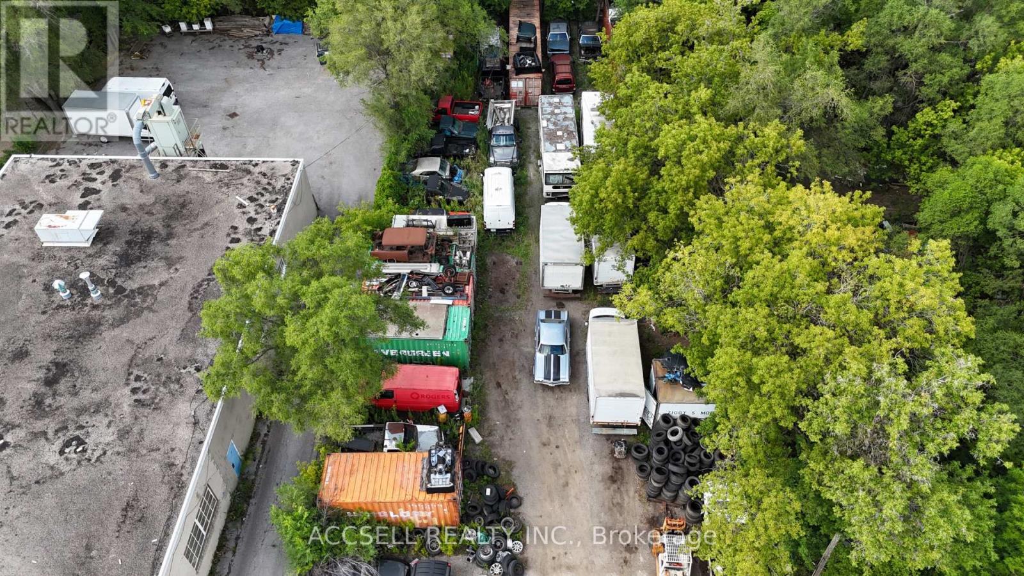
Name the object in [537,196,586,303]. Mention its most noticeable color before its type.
white truck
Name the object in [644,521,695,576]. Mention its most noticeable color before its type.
white work vehicle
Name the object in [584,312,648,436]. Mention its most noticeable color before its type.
white van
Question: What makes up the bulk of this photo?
trees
